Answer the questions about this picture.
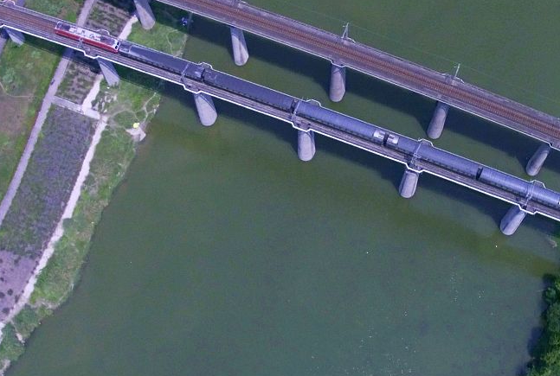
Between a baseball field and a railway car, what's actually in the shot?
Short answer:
railway car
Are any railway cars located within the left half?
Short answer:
Yes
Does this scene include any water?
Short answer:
Yes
